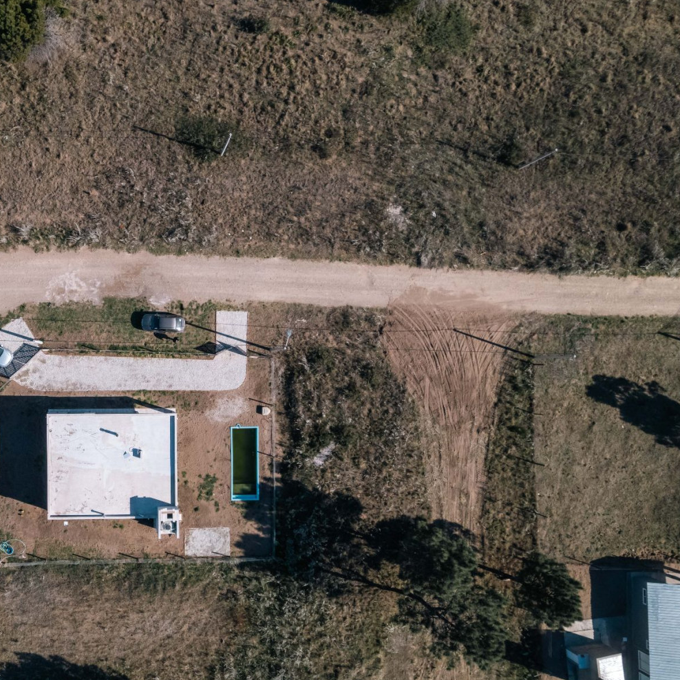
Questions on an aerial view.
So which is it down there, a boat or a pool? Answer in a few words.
pool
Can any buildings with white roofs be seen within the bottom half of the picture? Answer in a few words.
Yes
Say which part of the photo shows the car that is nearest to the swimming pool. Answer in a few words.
left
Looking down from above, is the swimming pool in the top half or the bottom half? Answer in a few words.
bottom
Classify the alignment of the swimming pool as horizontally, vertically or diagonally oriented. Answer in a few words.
vertically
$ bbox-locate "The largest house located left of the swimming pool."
[48,408,177,519]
